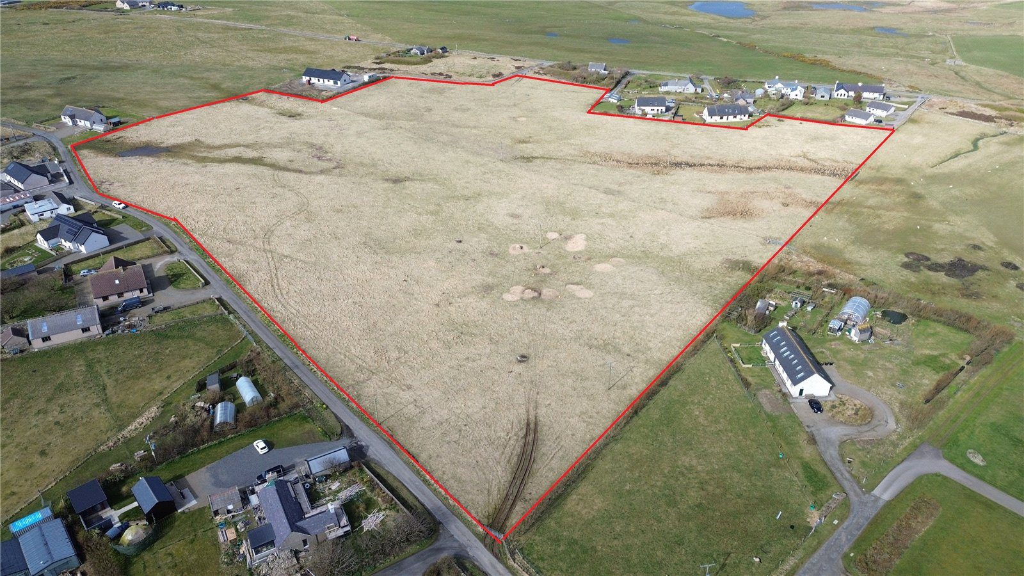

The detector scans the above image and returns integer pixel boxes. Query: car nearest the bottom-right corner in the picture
[809,395,823,412]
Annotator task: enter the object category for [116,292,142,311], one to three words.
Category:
vehicle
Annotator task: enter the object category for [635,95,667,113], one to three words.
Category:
house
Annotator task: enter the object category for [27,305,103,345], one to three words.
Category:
shed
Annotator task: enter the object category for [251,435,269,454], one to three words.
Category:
car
